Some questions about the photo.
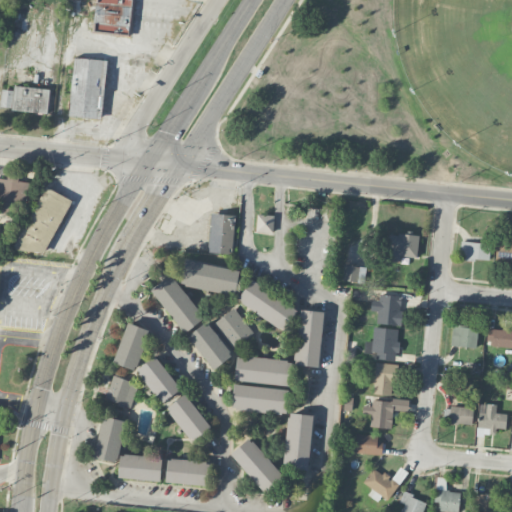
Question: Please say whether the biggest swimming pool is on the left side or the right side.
left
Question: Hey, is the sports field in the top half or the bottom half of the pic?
top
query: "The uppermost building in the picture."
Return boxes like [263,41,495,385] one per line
[94,0,132,34]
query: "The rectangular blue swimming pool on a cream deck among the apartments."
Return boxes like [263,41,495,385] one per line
[134,402,156,439]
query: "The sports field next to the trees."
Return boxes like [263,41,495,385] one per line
[392,0,512,174]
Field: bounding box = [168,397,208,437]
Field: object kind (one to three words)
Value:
building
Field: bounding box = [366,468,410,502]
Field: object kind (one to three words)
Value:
house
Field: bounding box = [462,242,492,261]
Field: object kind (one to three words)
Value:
house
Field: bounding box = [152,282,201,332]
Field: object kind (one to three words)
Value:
building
